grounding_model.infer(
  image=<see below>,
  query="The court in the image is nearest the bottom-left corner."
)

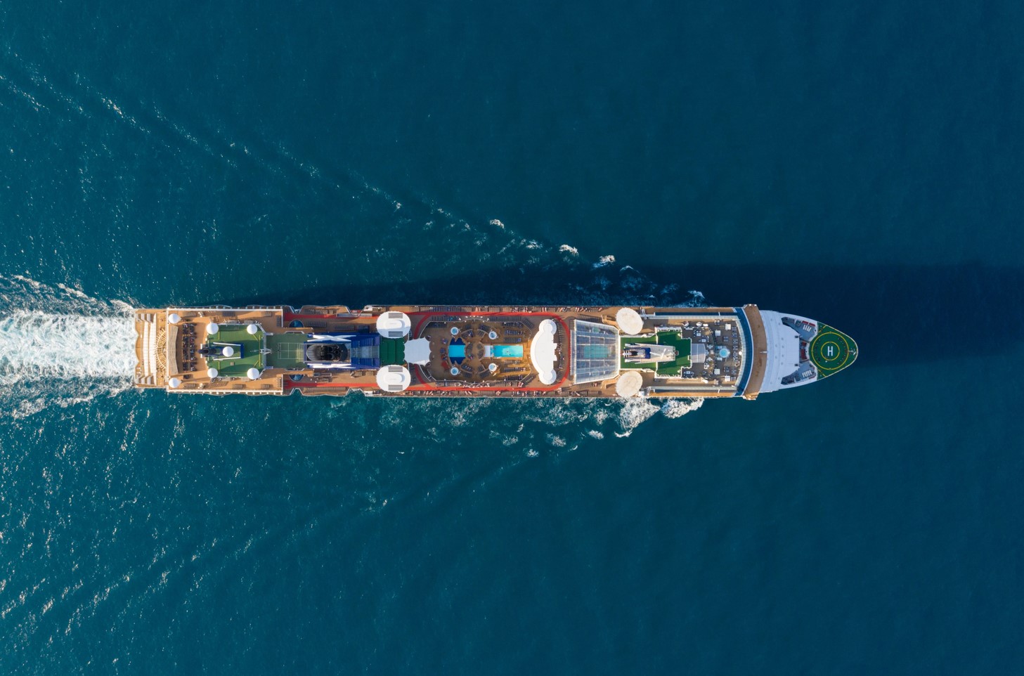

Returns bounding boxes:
[210,325,264,377]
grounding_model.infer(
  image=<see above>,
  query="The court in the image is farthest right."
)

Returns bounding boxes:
[266,334,304,369]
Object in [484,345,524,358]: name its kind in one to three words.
swimming pool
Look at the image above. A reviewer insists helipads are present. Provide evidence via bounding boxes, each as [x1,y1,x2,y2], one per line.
[808,321,858,381]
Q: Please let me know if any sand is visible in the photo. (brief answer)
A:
No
